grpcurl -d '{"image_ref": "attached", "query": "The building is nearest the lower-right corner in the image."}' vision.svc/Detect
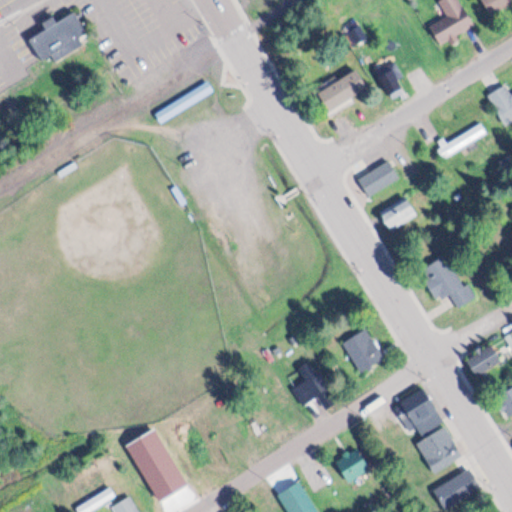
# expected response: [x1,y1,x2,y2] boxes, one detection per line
[434,471,479,510]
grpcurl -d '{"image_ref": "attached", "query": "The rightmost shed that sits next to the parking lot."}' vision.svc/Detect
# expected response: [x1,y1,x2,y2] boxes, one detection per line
[155,80,214,125]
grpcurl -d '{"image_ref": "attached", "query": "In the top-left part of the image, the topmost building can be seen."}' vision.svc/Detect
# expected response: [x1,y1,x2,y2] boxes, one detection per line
[28,13,88,62]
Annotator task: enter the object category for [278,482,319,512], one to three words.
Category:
building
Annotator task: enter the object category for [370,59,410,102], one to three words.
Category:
house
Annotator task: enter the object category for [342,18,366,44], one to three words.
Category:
shed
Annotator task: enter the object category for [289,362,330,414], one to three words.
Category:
house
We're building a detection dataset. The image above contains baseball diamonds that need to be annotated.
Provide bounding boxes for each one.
[0,137,226,437]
